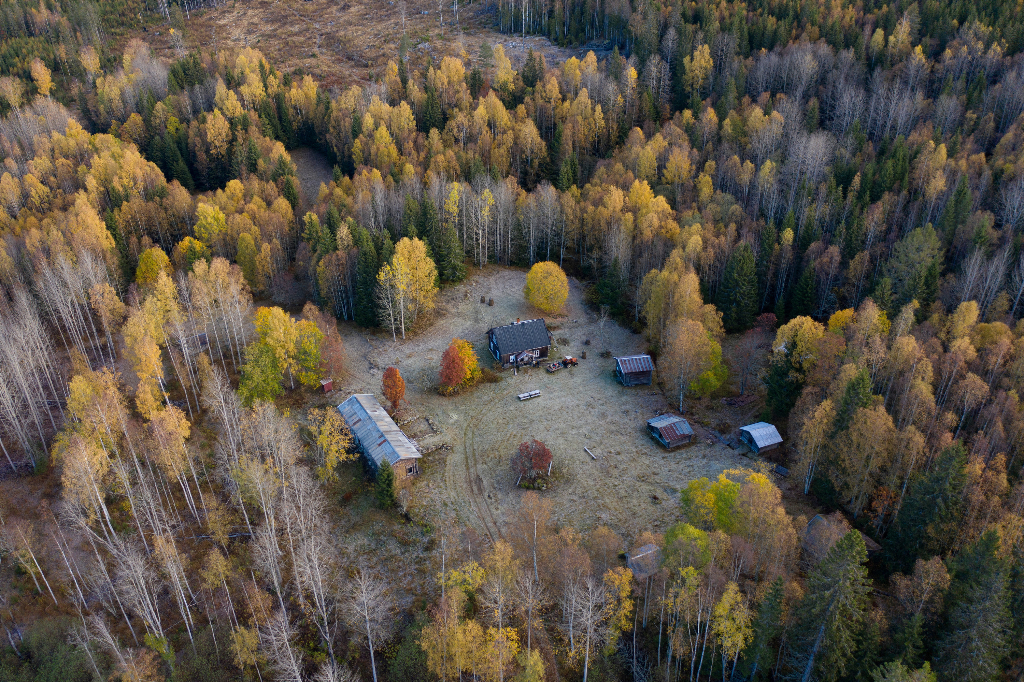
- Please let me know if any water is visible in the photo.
No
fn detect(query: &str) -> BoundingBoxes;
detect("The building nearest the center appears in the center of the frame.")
[486,316,551,369]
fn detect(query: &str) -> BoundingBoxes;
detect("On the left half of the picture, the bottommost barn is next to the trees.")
[338,393,419,480]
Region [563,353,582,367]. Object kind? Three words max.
work vehicle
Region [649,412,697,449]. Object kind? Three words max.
shed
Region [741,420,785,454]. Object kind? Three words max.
shed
